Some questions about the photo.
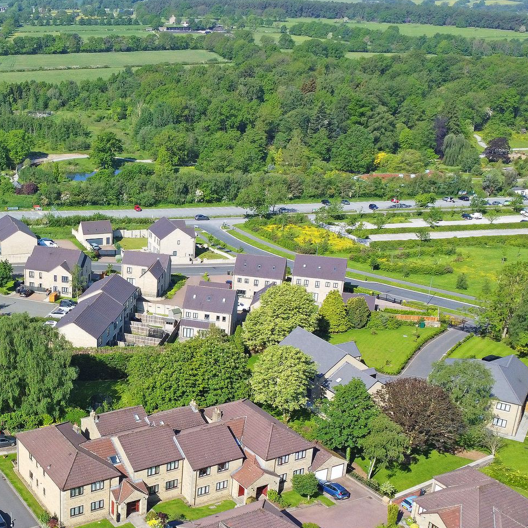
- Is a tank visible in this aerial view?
No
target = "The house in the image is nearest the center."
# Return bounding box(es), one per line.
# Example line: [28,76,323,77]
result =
[232,253,286,293]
